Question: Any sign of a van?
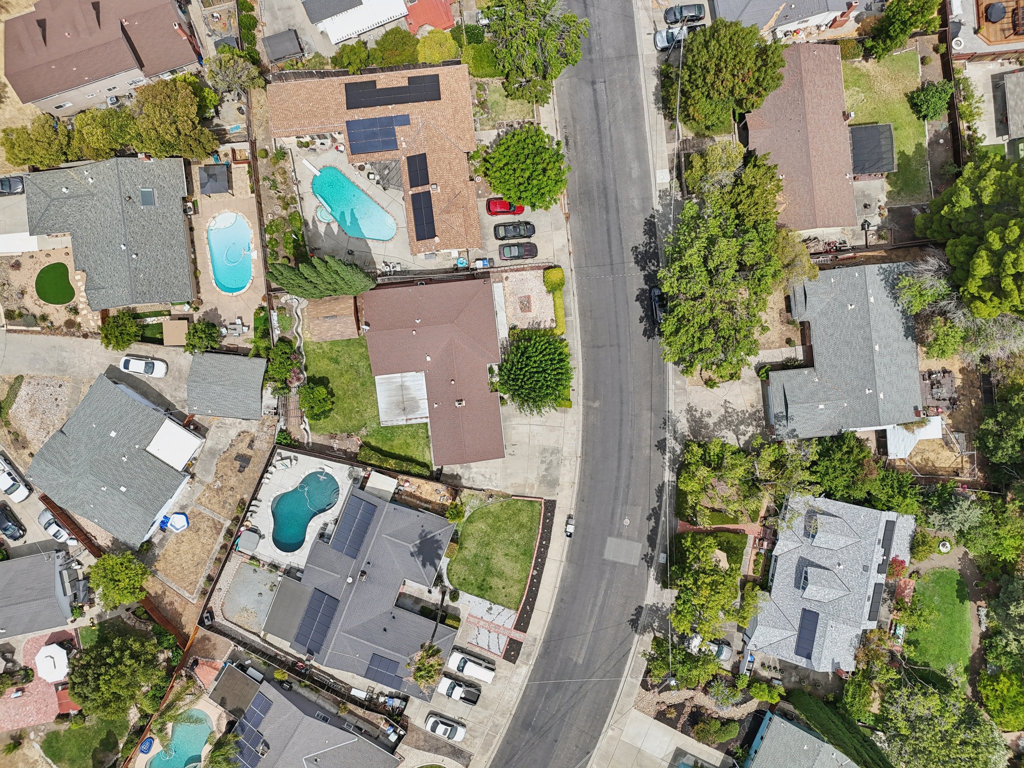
Yes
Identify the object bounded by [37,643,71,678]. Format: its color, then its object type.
white umbrella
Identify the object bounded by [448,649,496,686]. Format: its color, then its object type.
white van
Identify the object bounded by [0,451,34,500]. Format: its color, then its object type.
white car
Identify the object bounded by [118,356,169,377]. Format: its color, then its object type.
white car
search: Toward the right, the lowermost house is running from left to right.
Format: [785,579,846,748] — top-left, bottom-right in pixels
[732,709,863,768]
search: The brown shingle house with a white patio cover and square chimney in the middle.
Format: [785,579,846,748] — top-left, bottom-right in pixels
[358,278,506,467]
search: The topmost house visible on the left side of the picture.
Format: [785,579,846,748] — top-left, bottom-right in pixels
[300,0,364,32]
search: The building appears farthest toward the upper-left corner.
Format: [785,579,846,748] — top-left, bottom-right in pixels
[4,0,211,116]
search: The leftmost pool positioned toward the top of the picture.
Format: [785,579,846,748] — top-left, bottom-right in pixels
[204,207,256,297]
